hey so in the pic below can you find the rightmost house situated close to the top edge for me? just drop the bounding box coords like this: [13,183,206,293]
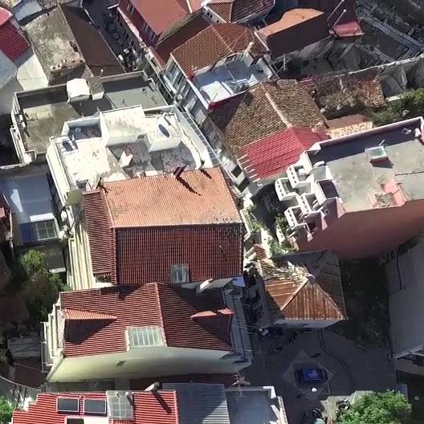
[306,0,364,58]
